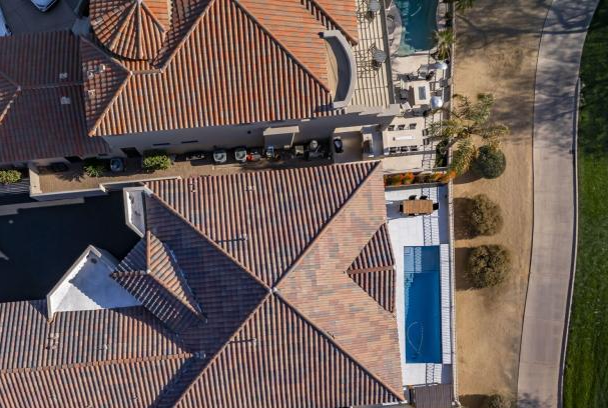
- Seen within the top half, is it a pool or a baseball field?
pool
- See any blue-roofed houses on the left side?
No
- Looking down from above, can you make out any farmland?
No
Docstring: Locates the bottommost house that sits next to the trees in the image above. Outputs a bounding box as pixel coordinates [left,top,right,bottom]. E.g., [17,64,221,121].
[0,161,405,408]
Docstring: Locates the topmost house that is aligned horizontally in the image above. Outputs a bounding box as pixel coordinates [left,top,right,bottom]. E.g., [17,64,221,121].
[0,0,400,170]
